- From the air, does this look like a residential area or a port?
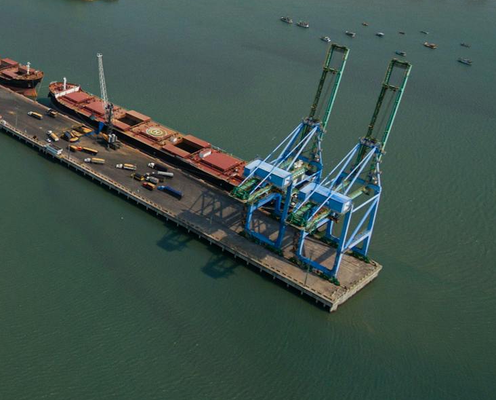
port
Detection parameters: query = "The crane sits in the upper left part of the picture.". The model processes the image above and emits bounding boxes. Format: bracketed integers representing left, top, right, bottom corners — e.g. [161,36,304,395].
[96,53,125,151]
